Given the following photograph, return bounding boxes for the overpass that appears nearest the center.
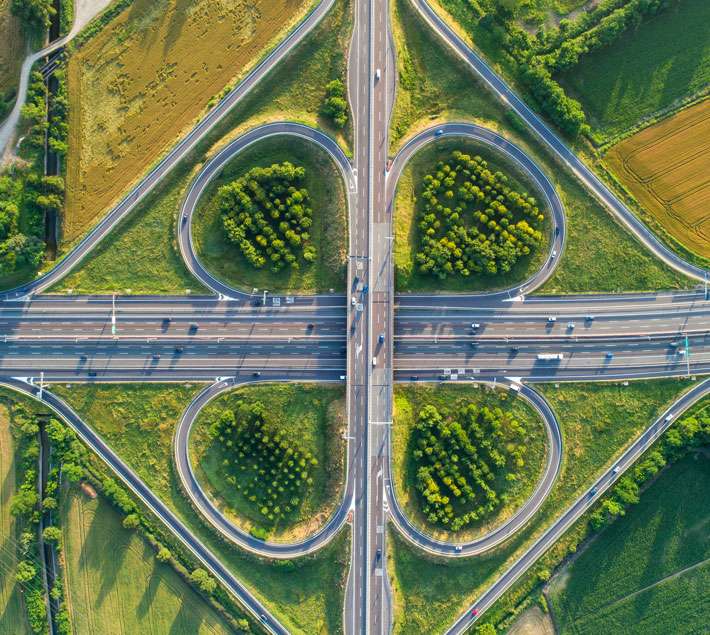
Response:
[345,281,395,397]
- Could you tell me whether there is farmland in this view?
Yes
